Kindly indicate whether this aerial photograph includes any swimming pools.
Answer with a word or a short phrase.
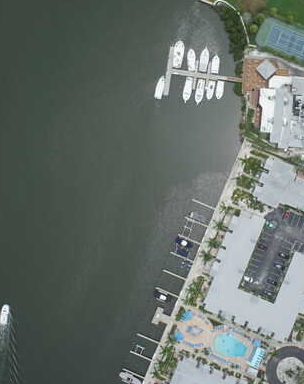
Yes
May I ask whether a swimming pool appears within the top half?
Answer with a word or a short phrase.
No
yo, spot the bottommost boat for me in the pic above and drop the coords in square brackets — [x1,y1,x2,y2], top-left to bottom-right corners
[118,370,141,384]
